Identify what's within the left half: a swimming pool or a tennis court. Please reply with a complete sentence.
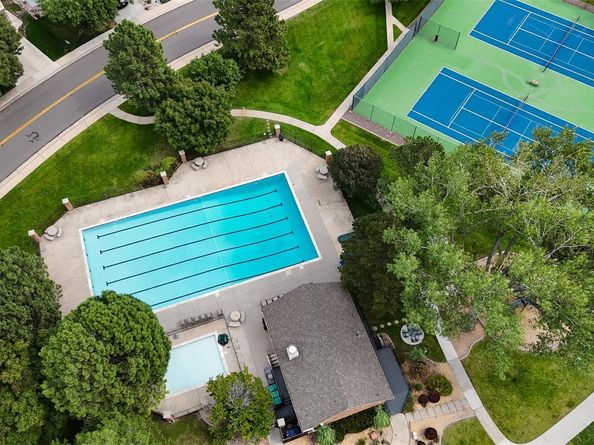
Looking within the left half, you will find a swimming pool.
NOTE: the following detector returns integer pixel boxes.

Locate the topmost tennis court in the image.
[417,0,594,108]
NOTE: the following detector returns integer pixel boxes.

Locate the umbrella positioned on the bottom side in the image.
[213,332,228,348]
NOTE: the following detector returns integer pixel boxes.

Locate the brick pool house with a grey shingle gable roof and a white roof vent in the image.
[262,280,392,433]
